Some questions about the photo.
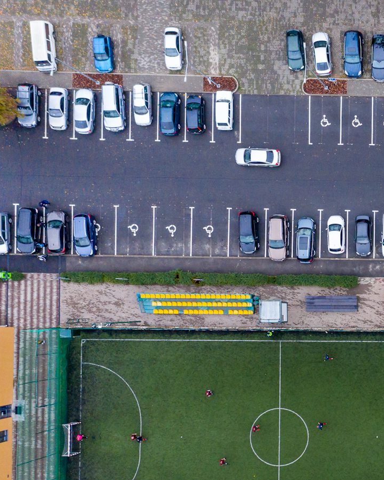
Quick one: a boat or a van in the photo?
van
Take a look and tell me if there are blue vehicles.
Yes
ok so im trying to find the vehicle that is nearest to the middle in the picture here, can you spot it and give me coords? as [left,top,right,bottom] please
[238,210,261,254]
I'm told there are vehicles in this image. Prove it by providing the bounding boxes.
[370,35,384,83]
[157,92,182,136]
[14,83,43,128]
[183,95,207,134]
[267,214,290,261]
[238,210,261,254]
[294,217,318,264]
[285,30,307,72]
[341,30,365,79]
[131,83,154,127]
[352,215,373,257]
[213,91,236,131]
[162,27,185,71]
[73,214,98,257]
[237,146,282,167]
[325,215,347,254]
[46,87,71,131]
[71,89,98,135]
[101,81,127,131]
[0,212,13,254]
[89,32,116,73]
[310,33,334,77]
[24,18,59,72]
[45,210,71,254]
[16,207,44,254]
